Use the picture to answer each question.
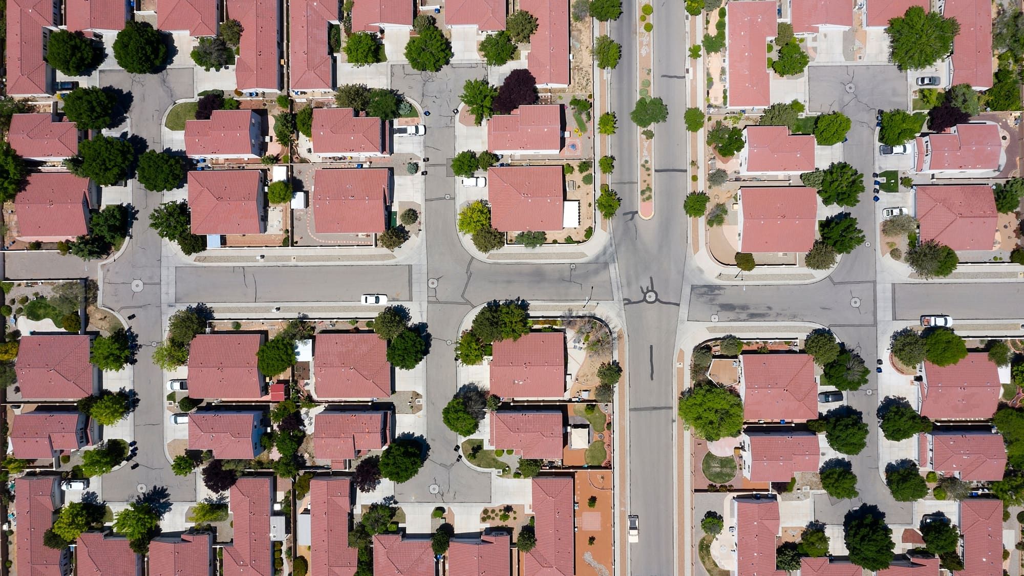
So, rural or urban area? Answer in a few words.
urban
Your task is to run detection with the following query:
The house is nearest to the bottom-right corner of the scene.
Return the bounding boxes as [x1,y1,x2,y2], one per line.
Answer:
[947,498,1003,576]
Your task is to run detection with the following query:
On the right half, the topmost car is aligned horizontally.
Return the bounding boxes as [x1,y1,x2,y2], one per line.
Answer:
[915,75,940,87]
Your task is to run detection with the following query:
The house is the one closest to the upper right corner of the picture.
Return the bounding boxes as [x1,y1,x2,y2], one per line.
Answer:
[938,0,992,89]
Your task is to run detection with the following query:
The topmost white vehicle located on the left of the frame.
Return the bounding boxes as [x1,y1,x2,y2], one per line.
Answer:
[393,124,425,137]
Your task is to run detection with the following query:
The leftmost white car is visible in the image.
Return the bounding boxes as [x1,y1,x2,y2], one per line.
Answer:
[61,478,89,491]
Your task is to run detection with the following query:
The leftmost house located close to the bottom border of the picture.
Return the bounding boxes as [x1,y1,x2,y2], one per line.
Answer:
[15,476,67,576]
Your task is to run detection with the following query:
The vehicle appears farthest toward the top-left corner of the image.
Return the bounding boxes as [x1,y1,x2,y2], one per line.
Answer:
[53,79,81,92]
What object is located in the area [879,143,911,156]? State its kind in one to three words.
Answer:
vehicle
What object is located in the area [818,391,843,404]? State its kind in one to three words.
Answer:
vehicle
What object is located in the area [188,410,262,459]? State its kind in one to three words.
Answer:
house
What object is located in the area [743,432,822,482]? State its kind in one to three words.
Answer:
house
